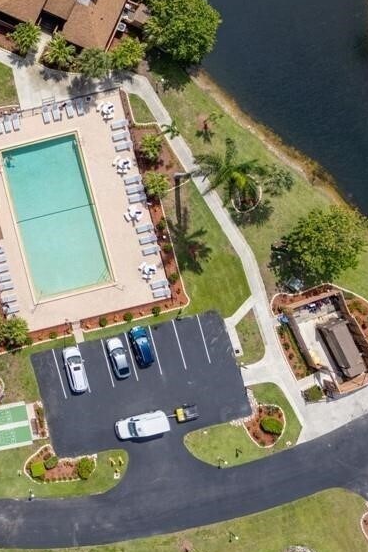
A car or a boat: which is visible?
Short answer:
car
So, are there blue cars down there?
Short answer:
Yes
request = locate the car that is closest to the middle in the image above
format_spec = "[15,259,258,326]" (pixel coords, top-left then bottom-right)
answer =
[129,326,154,366]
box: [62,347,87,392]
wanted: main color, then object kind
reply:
white car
